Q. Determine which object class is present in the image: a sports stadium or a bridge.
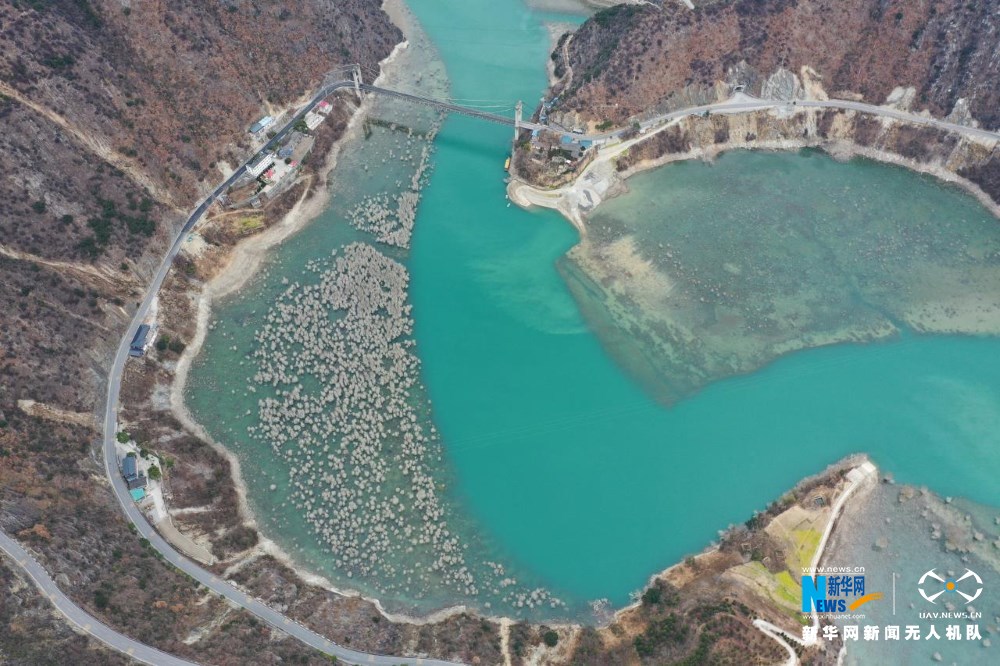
bridge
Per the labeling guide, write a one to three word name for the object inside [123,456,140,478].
house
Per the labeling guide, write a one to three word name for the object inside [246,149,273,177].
building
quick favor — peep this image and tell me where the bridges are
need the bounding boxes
[310,61,562,142]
